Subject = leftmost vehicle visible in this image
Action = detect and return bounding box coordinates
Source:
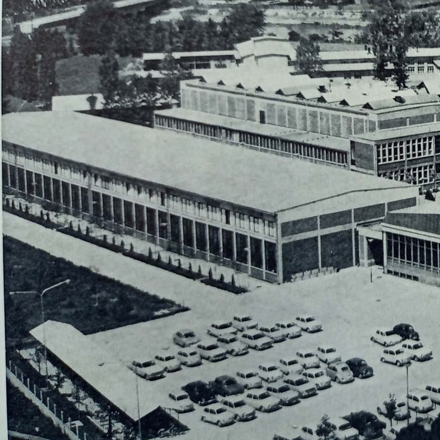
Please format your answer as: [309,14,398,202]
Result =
[129,358,164,381]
